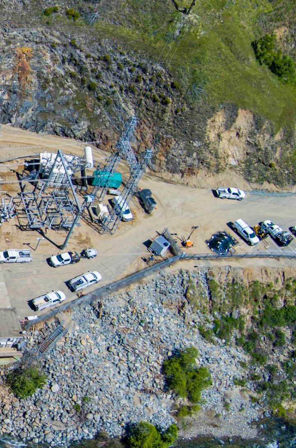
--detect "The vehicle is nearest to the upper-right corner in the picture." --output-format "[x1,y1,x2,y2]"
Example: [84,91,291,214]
[214,188,247,203]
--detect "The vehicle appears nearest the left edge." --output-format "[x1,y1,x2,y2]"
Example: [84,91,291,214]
[0,248,35,263]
